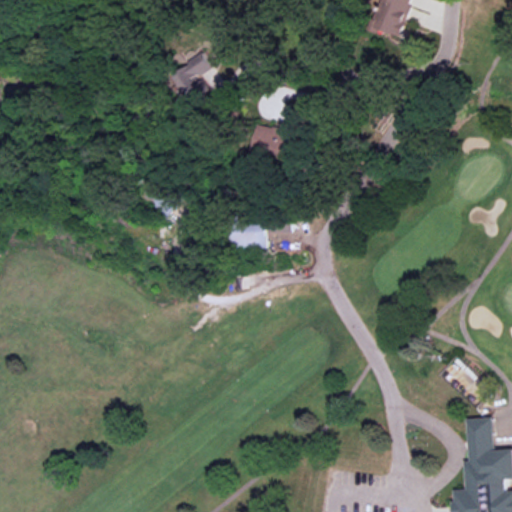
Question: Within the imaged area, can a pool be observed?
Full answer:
No, there appears to be no pool in this shot.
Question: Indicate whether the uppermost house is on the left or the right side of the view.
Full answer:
The uppermost house appears in the right half of the scene.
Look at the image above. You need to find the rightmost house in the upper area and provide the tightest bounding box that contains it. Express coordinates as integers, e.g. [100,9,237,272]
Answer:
[362,0,408,40]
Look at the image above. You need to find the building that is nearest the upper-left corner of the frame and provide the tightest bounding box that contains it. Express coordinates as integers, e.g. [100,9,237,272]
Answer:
[172,54,211,96]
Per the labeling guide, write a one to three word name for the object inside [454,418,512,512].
building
